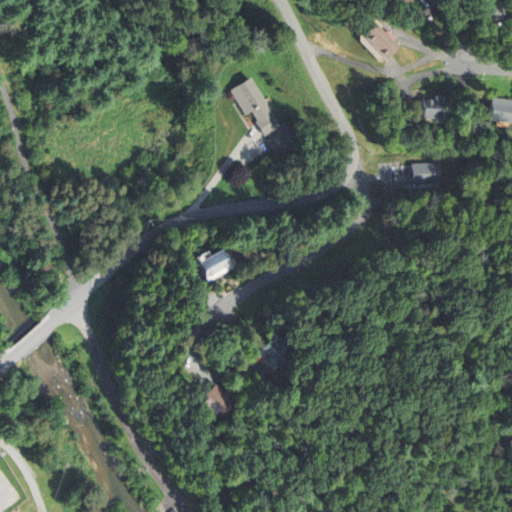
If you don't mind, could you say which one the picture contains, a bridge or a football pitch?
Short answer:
bridge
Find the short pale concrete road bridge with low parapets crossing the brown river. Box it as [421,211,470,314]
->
[4,305,66,364]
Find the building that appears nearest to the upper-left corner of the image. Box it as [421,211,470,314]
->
[230,77,278,134]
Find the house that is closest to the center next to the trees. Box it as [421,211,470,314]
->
[200,250,233,282]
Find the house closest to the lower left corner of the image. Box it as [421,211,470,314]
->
[206,384,230,415]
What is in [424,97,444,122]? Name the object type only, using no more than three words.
house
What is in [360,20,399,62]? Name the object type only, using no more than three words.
house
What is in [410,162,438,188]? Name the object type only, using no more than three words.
building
